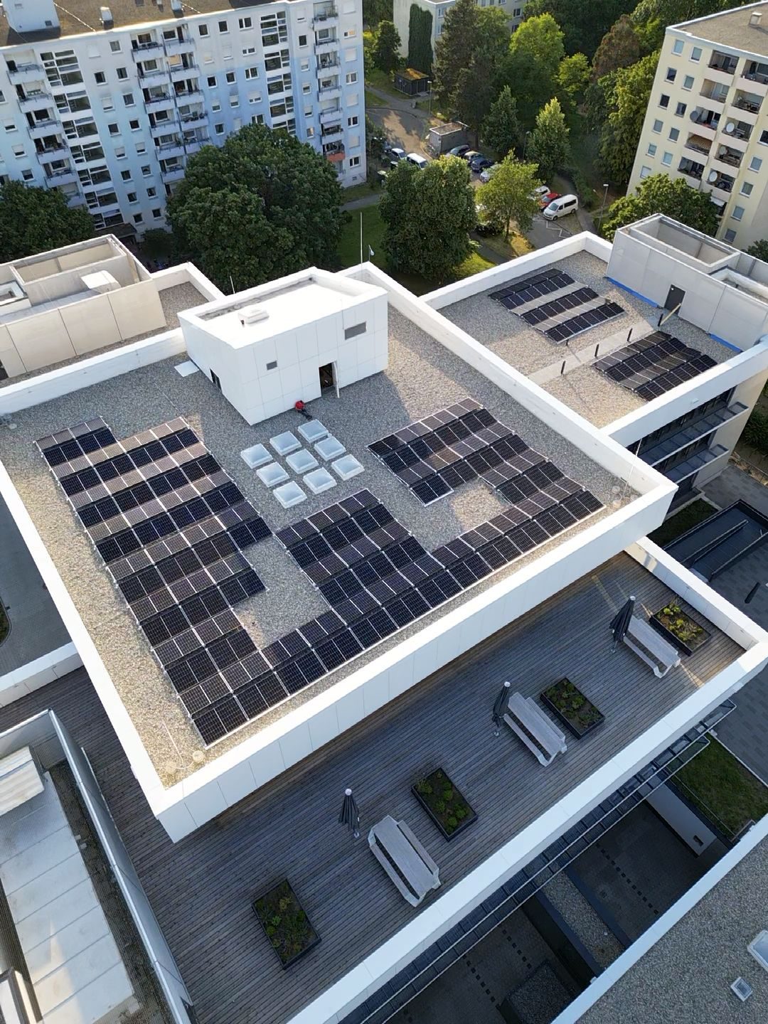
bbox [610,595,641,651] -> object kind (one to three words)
umbrella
